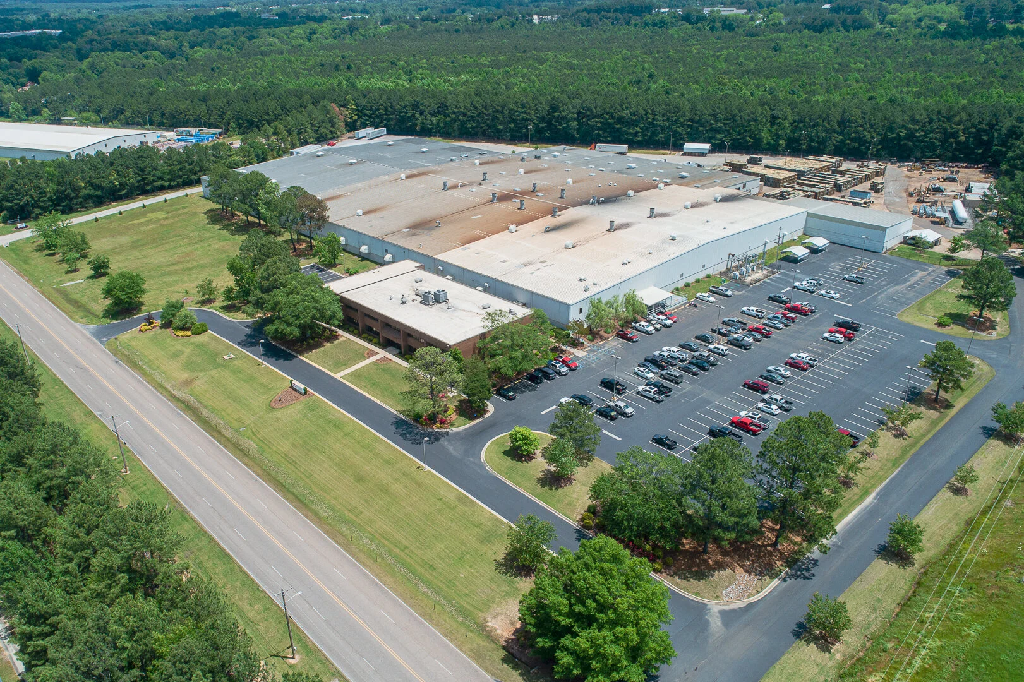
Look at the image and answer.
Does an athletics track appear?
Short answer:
No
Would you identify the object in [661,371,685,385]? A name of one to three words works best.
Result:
car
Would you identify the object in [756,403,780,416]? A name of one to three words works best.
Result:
vehicle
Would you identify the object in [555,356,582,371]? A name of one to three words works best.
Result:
vehicle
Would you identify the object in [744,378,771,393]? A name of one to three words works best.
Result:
car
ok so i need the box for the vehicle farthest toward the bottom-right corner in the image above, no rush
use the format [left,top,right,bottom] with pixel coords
[828,427,866,446]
